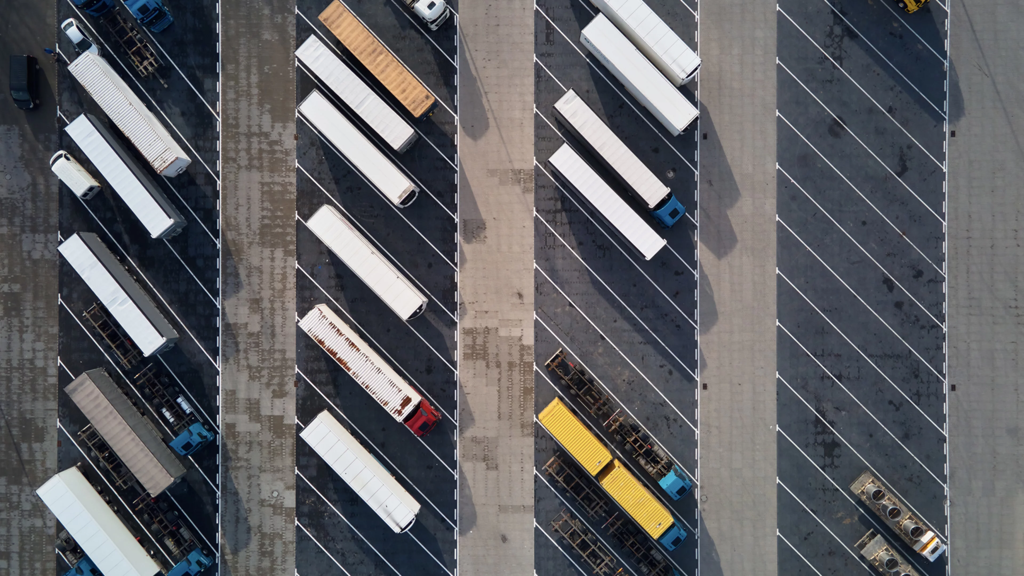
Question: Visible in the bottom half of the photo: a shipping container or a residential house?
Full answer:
The feature located in the bottom half of the photo is a shipping container.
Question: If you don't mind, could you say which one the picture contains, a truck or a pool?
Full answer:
Looking from above, you can make out a truck.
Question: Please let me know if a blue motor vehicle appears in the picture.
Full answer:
Yes, the photo shows a blue motor vehicle.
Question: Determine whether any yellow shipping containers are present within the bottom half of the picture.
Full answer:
Yes, there is a yellow shipping container within the bottom half of the picture.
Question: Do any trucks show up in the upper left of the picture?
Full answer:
Yes, a truck can be seen in the upper left of the picture.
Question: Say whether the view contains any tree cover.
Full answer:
No, no tree cover is visible.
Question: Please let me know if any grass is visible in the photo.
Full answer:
No, the picture contains no grass.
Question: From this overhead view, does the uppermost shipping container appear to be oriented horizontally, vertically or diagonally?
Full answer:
In this picture, the uppermost shipping container is oriented diagonally.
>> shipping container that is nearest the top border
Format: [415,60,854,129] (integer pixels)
[539,398,613,475]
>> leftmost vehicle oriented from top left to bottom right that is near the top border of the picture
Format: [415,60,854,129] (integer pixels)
[62,16,104,57]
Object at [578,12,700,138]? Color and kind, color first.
white trailer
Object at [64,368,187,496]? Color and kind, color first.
gray trailer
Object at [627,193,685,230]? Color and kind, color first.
blue truck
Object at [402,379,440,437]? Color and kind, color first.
red truck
